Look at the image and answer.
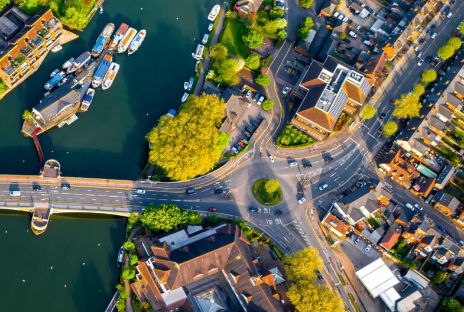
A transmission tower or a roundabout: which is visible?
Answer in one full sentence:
Looking from above, you can make out a roundabout.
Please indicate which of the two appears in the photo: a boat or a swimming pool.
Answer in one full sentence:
Of the two, only a boat appears.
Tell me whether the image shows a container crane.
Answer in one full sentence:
No, there's no container crane here.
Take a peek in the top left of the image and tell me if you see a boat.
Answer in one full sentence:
Yes, in the top left of the image there is a boat.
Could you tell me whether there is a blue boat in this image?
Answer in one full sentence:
Yes, this view includes a blue boat.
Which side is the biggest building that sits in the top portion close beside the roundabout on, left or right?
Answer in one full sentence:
The biggest building that sits in the top portion close beside the roundabout appears in the right half of the scene.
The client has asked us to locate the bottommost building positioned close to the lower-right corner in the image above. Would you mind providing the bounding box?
[394,290,422,312]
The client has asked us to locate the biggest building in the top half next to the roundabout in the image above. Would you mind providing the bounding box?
[289,59,372,145]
